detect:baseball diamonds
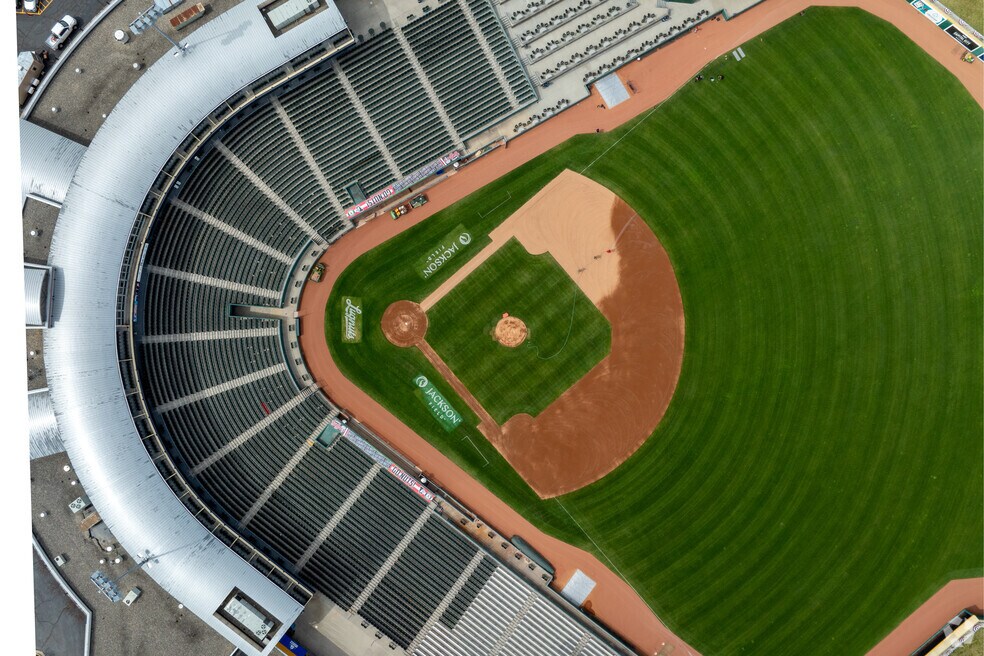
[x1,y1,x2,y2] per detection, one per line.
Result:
[300,0,984,656]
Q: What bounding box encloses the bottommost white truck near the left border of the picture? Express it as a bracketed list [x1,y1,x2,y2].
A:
[44,16,80,53]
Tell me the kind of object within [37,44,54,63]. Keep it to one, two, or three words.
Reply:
work vehicle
